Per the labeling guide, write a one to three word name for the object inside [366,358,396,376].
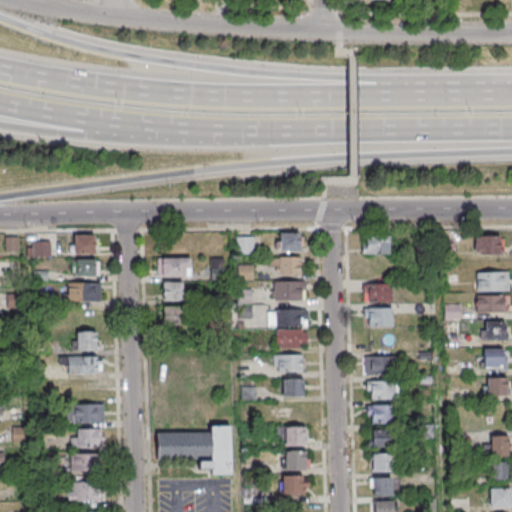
house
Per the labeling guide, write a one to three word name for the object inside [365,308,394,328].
house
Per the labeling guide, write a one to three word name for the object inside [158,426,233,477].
building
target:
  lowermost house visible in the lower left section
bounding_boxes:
[68,484,104,508]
